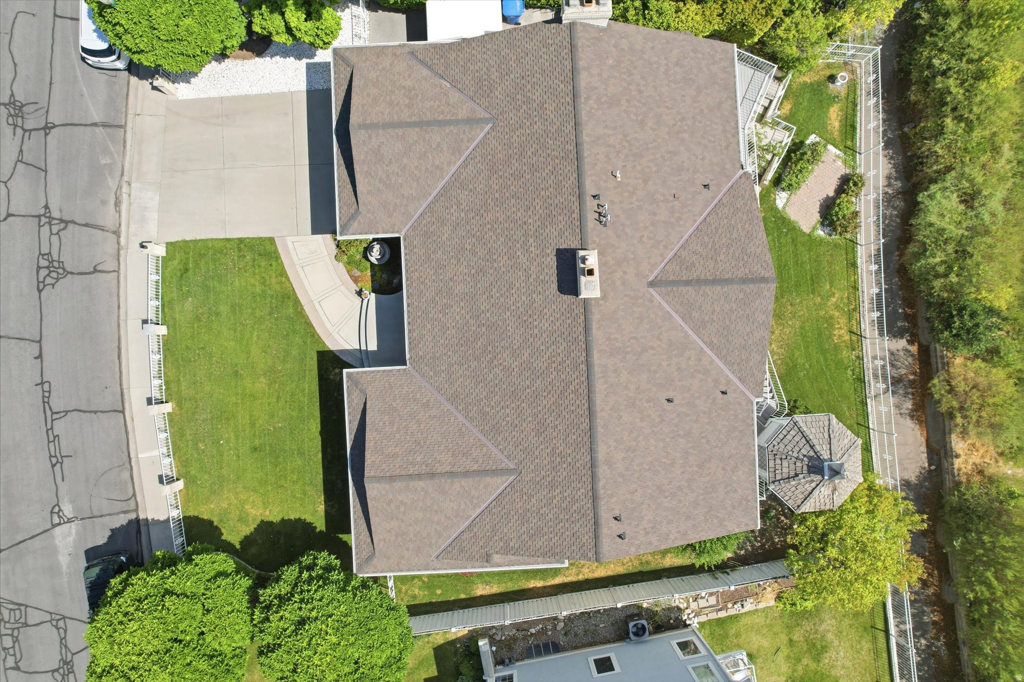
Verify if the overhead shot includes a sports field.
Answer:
No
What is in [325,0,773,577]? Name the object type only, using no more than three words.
house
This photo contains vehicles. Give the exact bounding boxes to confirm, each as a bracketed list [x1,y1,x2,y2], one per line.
[80,0,139,70]
[83,545,137,649]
